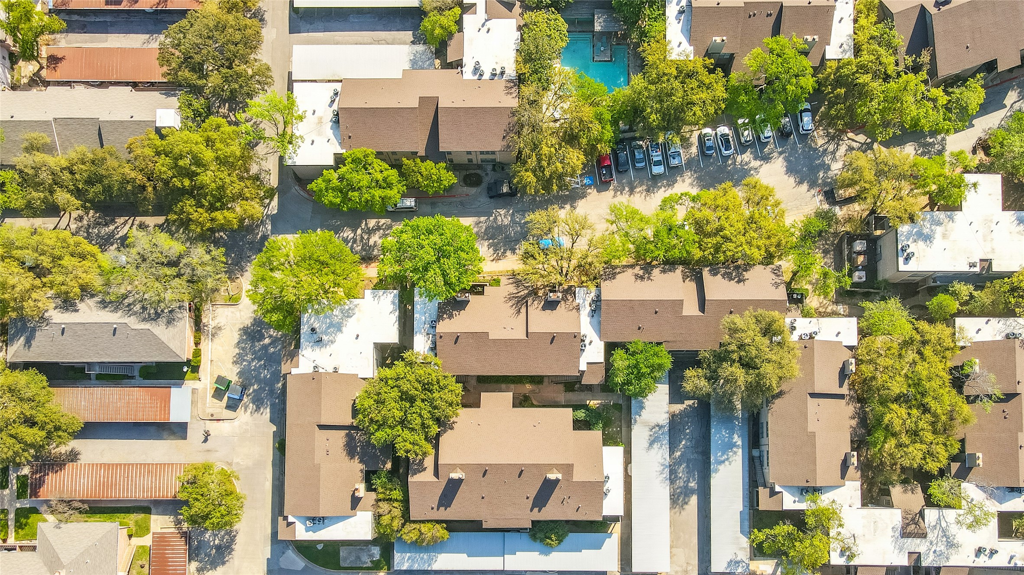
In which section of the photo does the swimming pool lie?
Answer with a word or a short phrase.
top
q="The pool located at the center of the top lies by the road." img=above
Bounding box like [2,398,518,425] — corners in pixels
[524,16,642,147]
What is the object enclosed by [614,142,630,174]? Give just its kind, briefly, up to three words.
car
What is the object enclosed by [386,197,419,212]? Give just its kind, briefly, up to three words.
car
